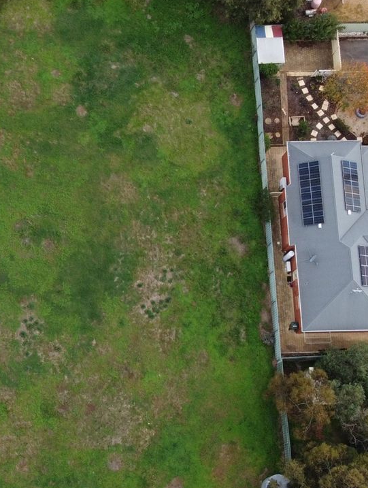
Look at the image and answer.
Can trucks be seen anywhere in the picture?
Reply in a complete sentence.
No, I find no truck anywhere in the image.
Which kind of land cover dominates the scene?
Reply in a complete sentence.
The bulk of the photo consists of farmland.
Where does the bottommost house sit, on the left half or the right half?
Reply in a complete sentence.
The bottommost house sits on the right side.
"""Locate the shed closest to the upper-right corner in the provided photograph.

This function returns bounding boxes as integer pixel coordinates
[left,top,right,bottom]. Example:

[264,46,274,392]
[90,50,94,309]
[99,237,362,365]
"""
[249,23,284,72]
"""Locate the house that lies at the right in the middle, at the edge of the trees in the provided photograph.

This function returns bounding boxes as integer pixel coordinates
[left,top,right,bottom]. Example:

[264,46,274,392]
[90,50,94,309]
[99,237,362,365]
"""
[277,139,368,336]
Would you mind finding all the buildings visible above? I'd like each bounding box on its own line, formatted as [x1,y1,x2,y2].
[249,23,284,72]
[277,139,368,336]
